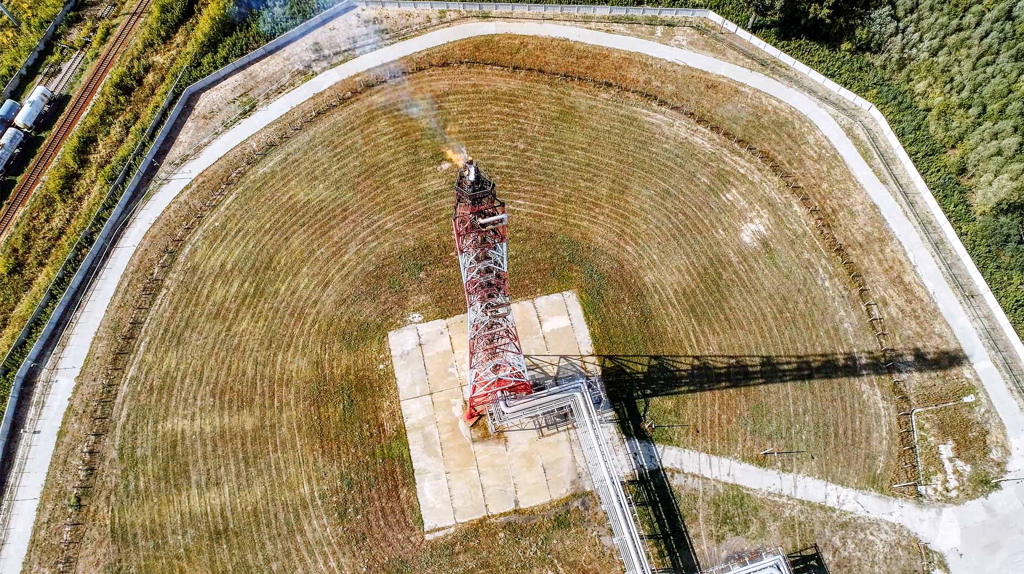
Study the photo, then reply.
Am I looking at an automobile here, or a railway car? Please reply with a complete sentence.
The image shows a railway car.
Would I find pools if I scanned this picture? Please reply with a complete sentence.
No, this view has no pool in it.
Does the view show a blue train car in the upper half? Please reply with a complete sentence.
Yes, a blue train car appears in the upper half.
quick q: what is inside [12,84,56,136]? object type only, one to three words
rail car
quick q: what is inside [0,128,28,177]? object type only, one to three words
rail car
